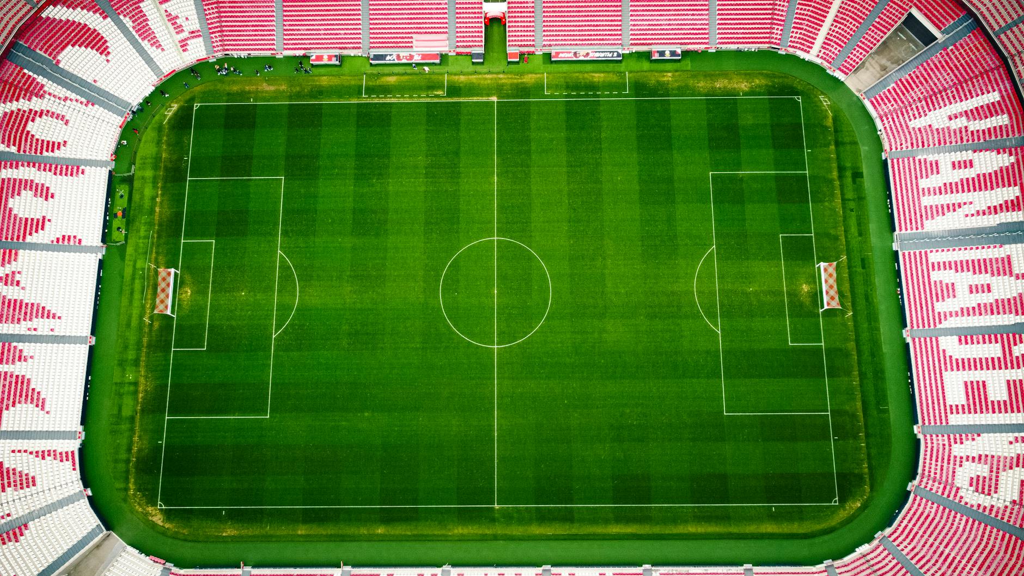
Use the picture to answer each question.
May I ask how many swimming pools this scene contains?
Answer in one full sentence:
No swimming pools are visible.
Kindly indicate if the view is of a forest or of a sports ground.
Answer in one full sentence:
This image shows a sports ground.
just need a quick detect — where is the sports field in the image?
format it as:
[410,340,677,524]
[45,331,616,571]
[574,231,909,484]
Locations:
[132,70,865,535]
